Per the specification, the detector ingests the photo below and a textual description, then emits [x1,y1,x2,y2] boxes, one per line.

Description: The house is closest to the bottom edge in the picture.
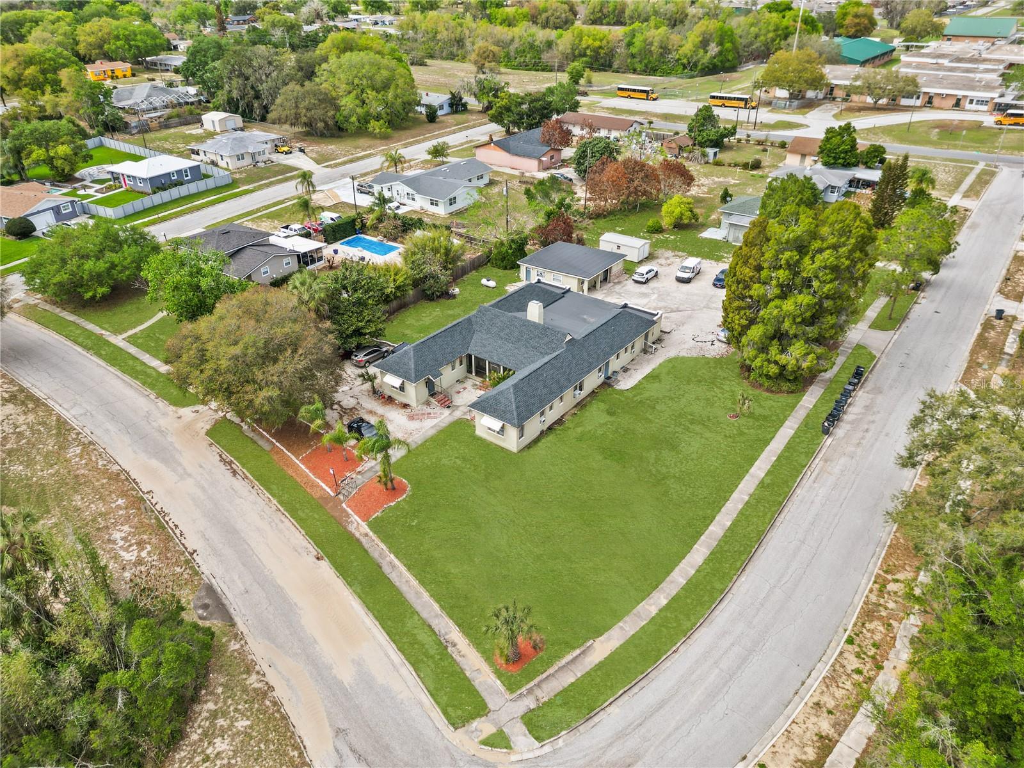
[371,276,664,451]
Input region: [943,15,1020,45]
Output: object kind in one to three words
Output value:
building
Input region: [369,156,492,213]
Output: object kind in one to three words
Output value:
house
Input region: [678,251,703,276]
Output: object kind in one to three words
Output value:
vehicle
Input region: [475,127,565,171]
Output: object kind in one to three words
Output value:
house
